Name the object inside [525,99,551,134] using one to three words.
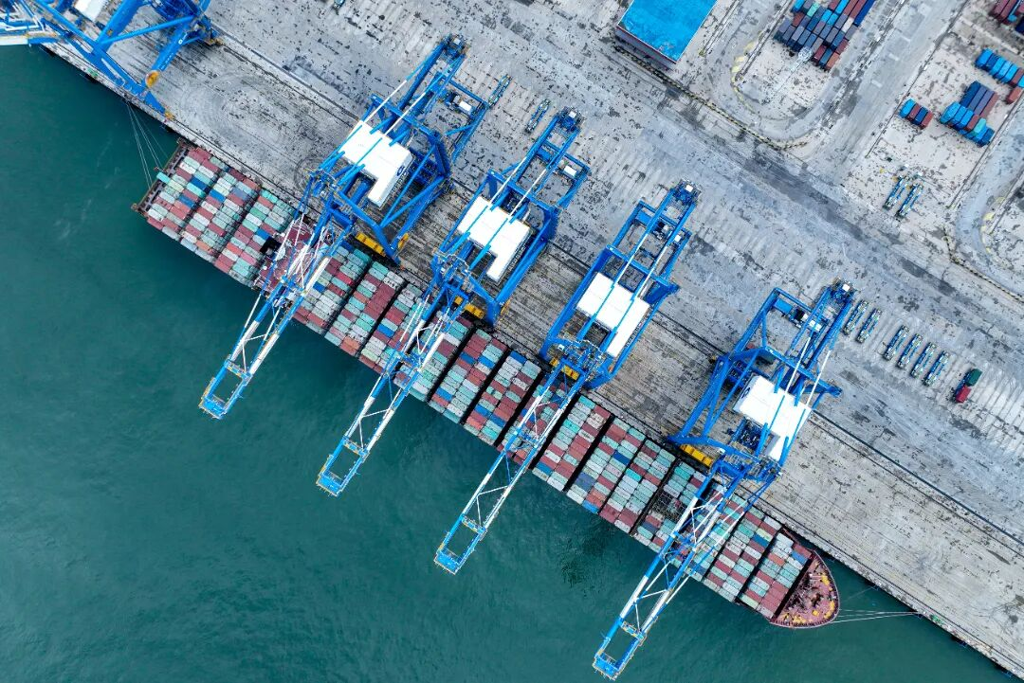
vehicle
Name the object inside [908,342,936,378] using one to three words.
vehicle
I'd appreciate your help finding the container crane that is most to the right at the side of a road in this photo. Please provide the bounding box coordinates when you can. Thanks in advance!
[594,276,866,683]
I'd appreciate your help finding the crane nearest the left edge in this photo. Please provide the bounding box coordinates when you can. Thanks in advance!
[0,0,233,125]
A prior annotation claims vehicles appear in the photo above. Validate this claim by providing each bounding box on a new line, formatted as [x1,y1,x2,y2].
[525,99,551,134]
[951,367,975,403]
[895,333,923,369]
[841,299,868,335]
[854,307,881,343]
[897,182,923,217]
[908,342,936,378]
[922,350,949,386]
[882,325,909,361]
[883,173,910,209]
[487,72,512,107]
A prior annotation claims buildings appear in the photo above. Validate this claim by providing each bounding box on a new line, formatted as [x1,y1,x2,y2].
[615,0,718,71]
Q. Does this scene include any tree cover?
No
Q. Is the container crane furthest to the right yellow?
No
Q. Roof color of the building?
blue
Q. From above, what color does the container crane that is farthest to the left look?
blue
